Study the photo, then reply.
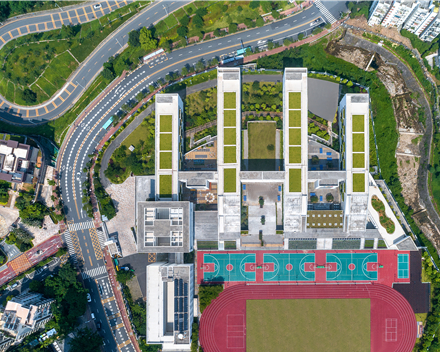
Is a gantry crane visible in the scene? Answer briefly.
No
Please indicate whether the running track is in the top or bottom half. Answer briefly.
bottom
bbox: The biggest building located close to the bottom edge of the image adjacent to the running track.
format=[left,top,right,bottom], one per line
[146,263,193,343]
